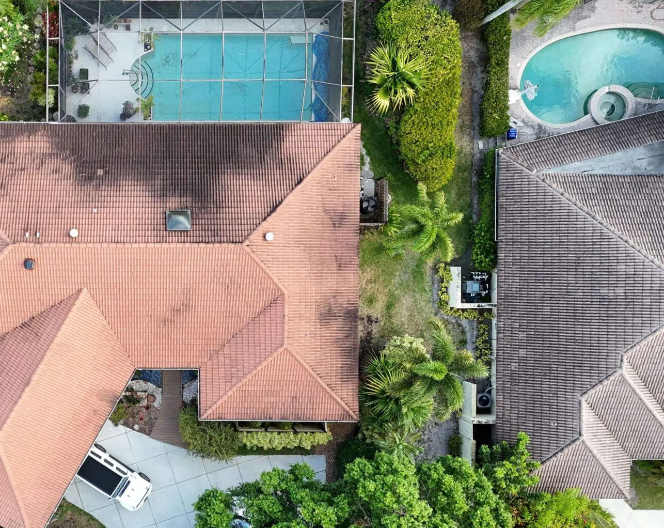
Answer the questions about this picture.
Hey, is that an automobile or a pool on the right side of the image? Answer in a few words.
pool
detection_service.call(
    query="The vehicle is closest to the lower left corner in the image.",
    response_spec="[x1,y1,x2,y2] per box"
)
[81,442,156,508]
